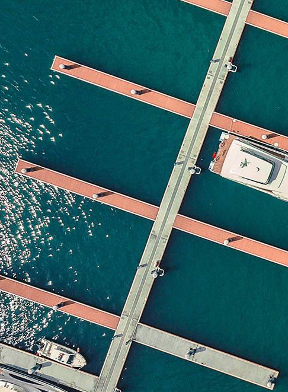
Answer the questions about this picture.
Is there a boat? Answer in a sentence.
Yes, I can see a boat in this picture.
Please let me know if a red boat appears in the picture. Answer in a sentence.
No, no red boat can be seen from above.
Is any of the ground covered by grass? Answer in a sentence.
No, there is no grass in the image.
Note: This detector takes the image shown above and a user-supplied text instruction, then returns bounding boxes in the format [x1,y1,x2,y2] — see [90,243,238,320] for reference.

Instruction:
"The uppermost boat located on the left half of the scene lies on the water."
[36,340,88,367]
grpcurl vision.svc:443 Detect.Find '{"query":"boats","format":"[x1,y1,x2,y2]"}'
[0,362,68,392]
[209,133,288,202]
[36,340,88,367]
